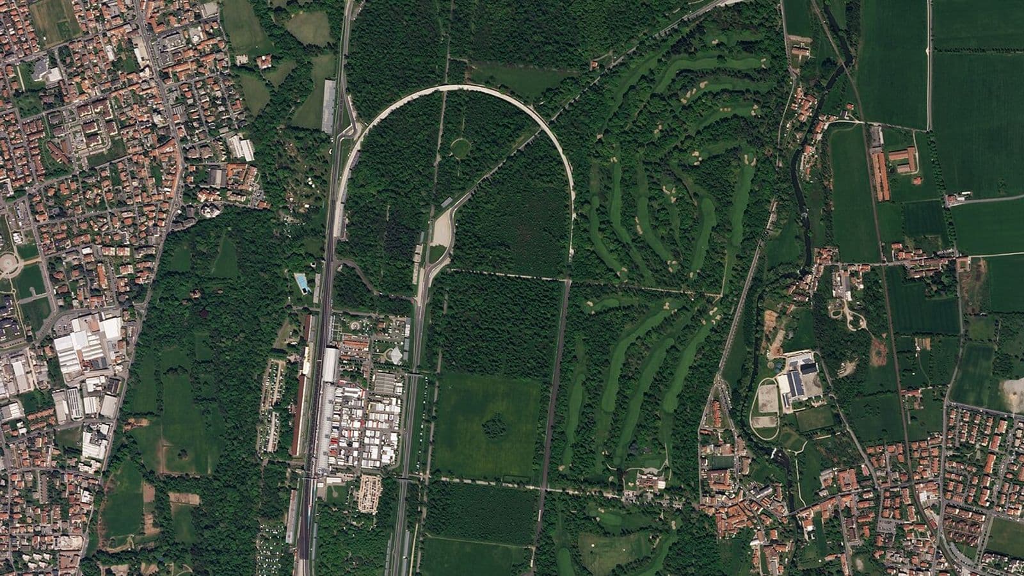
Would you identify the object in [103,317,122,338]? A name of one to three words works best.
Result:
building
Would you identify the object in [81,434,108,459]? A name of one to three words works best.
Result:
building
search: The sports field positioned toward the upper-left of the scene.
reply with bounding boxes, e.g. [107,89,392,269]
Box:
[31,0,82,47]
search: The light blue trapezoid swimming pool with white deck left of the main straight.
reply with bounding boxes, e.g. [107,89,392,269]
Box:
[294,273,312,295]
